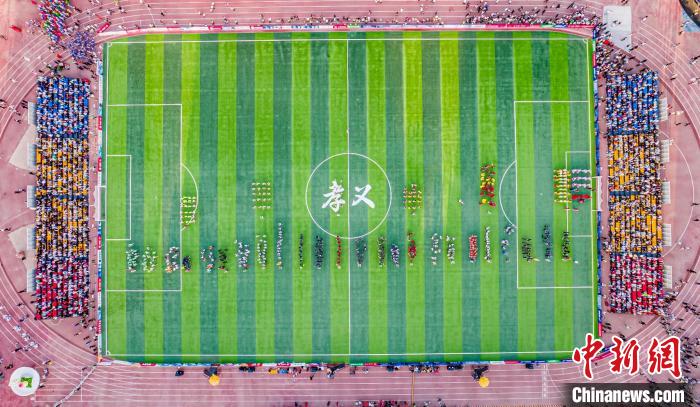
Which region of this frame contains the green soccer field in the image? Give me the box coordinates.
[100,32,602,361]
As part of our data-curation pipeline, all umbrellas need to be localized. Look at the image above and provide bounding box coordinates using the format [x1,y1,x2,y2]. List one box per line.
[479,376,489,386]
[208,375,219,385]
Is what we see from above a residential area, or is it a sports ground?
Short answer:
sports ground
